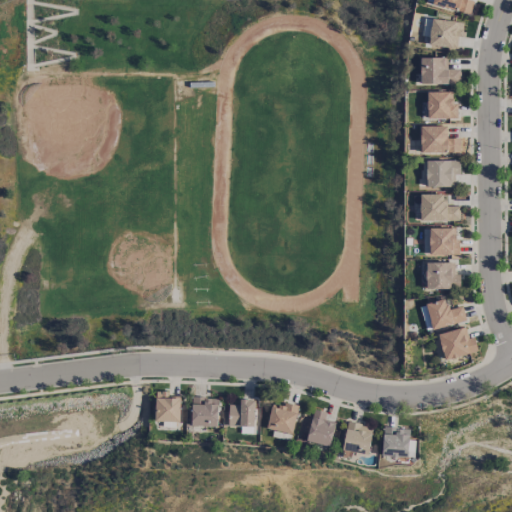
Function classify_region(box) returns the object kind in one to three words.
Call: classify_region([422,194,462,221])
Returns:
house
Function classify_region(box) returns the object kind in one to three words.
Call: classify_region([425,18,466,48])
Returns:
house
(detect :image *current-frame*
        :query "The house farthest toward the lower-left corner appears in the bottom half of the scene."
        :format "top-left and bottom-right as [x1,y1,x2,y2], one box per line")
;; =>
[156,392,182,429]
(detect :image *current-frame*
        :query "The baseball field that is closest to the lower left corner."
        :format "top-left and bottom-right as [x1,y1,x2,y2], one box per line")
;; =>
[40,206,175,316]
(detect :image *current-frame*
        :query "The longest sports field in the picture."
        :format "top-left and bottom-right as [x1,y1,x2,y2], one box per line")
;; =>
[230,32,350,296]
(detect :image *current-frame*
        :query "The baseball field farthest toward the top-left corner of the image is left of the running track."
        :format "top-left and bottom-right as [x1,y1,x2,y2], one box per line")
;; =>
[17,78,174,206]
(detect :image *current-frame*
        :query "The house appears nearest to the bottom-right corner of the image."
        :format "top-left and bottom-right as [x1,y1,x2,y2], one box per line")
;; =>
[384,427,416,458]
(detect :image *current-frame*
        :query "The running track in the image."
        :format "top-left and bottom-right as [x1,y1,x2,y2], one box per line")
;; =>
[214,14,368,312]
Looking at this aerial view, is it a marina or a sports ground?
sports ground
